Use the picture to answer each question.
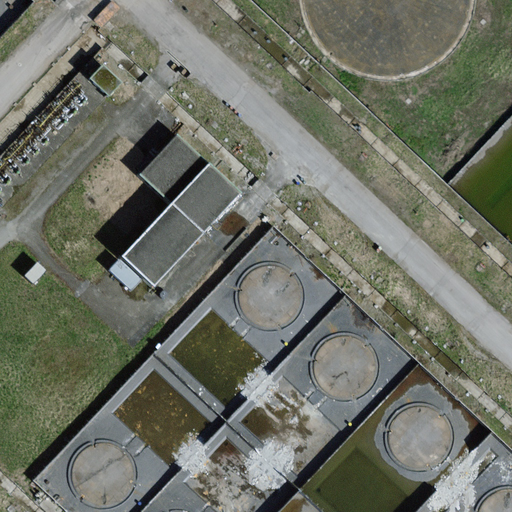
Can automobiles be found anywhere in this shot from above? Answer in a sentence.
No, I can't see a single automobile in this photo.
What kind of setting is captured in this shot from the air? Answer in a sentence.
The area seen from above is an industrial area.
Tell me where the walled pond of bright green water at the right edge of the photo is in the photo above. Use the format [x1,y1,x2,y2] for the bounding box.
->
[446,112,512,242]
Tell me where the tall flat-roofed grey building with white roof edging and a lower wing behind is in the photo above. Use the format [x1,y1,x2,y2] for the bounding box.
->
[120,134,243,286]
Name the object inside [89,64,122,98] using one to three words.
shed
